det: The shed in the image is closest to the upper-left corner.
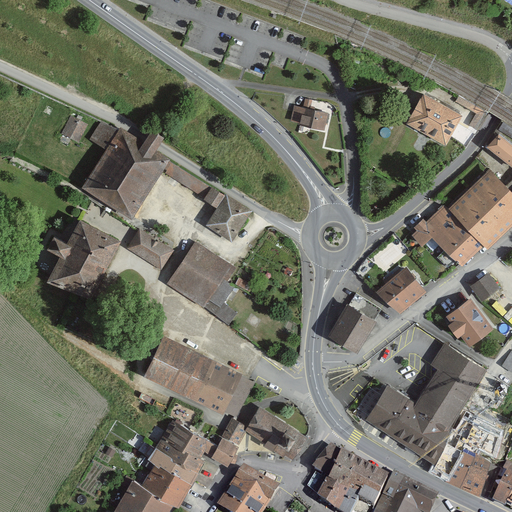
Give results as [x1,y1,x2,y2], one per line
[60,115,87,146]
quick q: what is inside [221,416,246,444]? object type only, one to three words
house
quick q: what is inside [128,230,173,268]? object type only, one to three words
shed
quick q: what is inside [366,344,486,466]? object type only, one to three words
building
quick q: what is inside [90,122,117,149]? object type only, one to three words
barn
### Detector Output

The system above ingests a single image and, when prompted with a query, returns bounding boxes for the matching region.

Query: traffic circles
[300,204,366,270]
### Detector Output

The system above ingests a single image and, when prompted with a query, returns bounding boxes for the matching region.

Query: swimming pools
[380,126,392,138]
[497,322,510,335]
